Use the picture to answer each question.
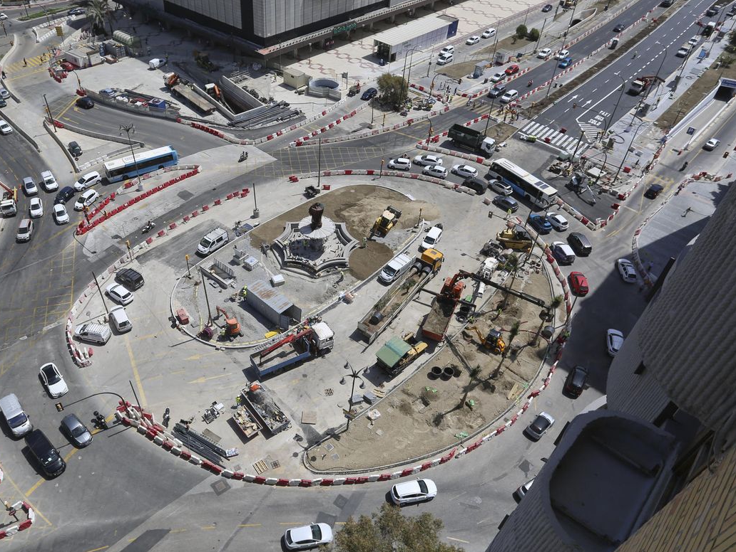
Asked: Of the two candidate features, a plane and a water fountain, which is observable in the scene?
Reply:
water fountain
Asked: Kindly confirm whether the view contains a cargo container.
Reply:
Yes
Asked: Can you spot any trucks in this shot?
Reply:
Yes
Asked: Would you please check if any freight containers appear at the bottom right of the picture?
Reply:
No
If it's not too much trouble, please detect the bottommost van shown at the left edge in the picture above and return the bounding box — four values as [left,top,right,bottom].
[24,432,65,479]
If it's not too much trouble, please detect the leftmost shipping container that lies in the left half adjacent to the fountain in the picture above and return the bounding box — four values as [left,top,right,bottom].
[247,285,307,345]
